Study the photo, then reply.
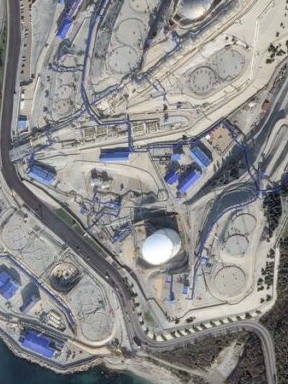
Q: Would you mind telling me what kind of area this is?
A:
industrial area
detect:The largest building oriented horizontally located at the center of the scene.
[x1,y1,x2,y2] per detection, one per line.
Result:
[98,148,131,162]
